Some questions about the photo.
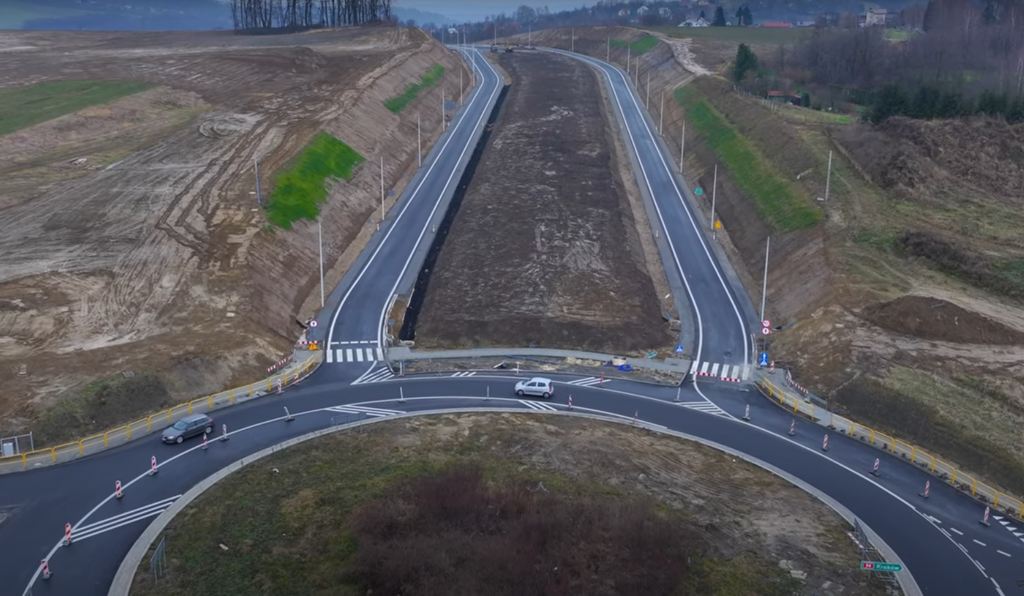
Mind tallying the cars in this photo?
two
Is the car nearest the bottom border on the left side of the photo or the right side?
left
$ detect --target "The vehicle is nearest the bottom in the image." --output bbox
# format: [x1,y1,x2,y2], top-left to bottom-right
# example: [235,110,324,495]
[160,411,216,443]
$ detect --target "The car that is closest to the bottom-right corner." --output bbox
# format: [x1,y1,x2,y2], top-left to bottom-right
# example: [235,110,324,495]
[514,376,555,397]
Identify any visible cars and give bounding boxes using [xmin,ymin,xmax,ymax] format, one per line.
[160,411,216,443]
[514,376,555,397]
